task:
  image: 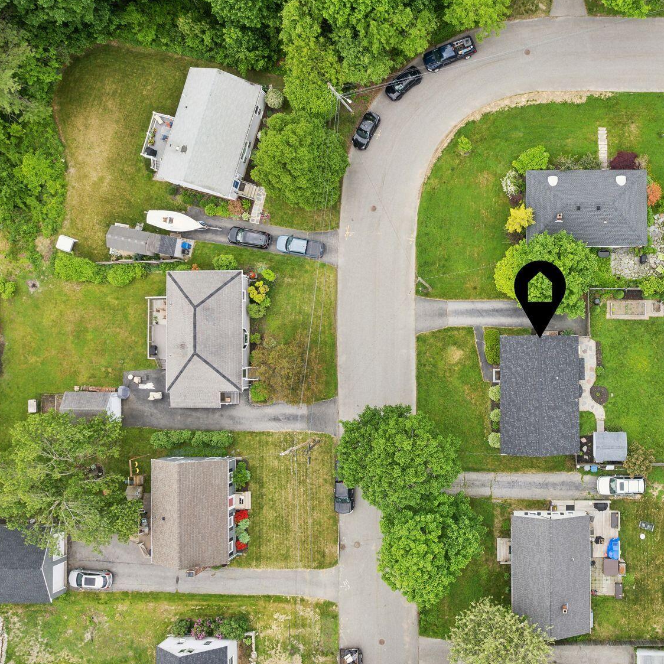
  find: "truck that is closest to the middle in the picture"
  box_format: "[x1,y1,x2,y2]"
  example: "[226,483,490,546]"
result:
[275,233,326,259]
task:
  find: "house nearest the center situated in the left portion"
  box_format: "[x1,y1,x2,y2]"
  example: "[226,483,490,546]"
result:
[165,269,261,408]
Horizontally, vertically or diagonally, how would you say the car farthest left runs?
horizontally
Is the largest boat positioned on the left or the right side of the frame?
left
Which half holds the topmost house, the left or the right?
left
